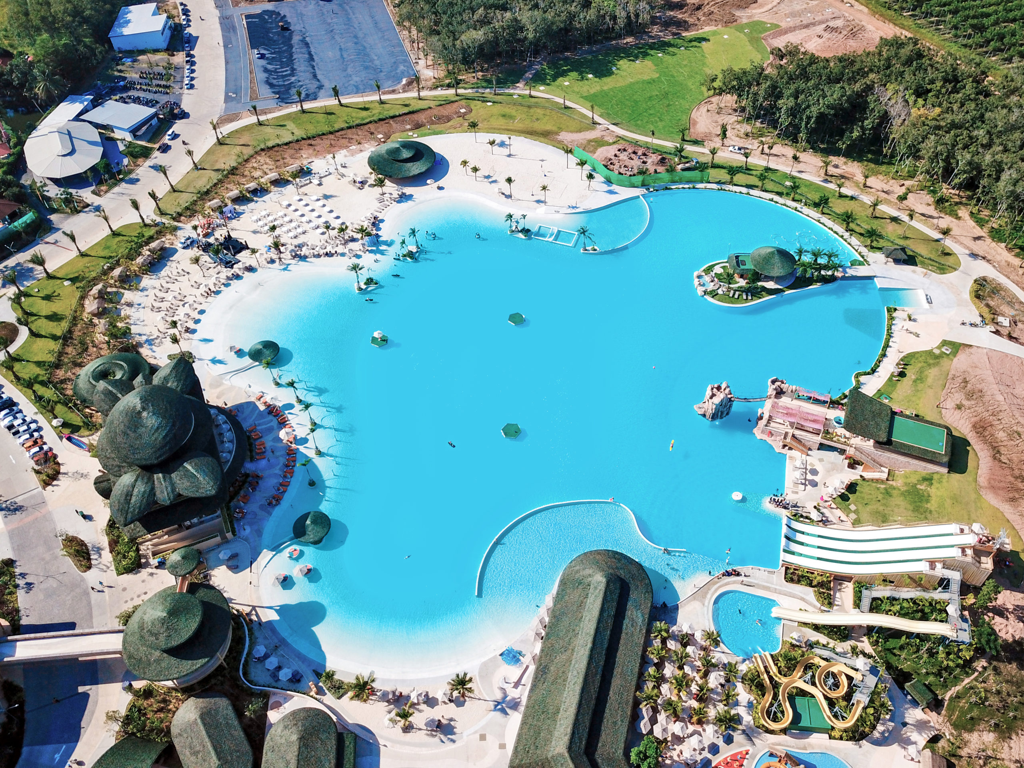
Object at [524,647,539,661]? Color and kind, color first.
white umbrella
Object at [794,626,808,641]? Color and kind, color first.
white umbrella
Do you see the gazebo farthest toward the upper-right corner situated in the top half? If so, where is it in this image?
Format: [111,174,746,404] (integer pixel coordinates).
[881,247,908,266]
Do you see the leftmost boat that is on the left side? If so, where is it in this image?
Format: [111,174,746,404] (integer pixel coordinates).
[55,426,90,451]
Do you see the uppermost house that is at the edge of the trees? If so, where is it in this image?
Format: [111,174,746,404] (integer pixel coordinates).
[108,3,171,49]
